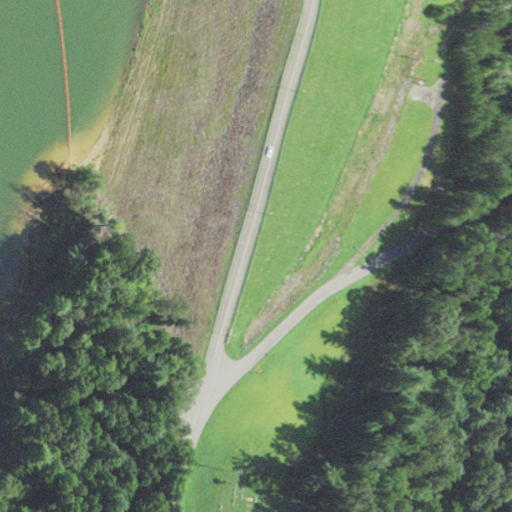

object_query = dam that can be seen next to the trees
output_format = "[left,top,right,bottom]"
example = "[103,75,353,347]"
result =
[77,0,410,352]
